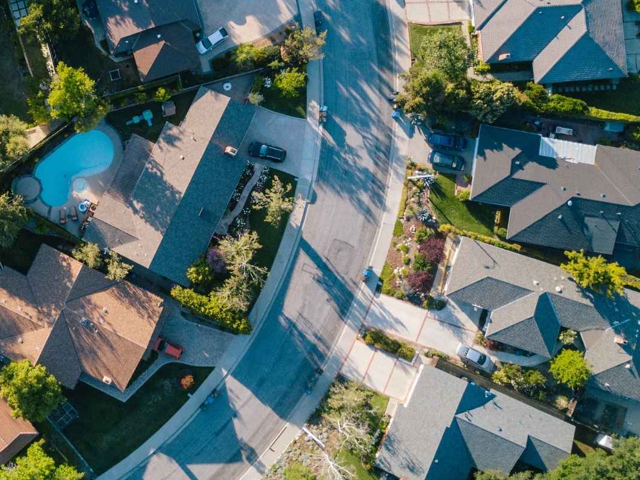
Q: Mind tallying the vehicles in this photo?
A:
6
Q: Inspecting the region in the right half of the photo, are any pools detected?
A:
No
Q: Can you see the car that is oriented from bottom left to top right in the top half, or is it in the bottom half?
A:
top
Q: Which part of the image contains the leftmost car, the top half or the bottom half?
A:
bottom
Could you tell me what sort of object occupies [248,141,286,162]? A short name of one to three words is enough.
car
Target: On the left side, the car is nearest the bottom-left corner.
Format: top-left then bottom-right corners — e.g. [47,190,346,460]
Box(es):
[153,337,187,359]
